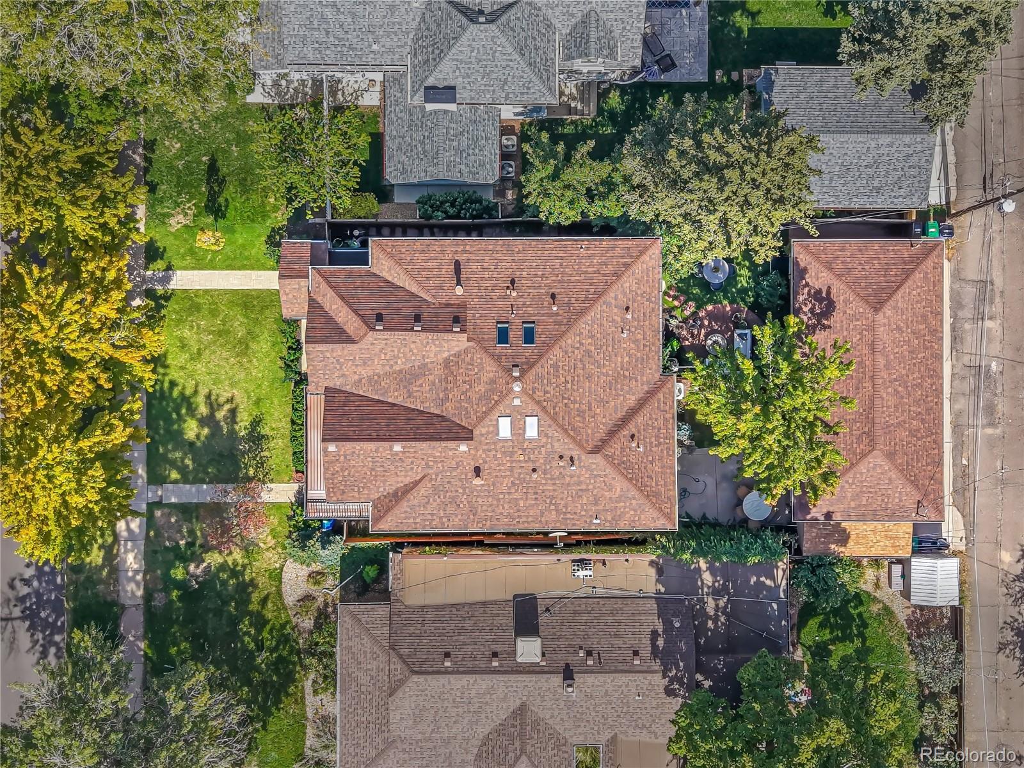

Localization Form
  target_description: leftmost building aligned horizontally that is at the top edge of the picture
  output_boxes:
[249,0,644,185]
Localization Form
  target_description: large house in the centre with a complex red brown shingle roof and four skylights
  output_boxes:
[279,236,679,533]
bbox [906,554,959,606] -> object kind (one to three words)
shed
